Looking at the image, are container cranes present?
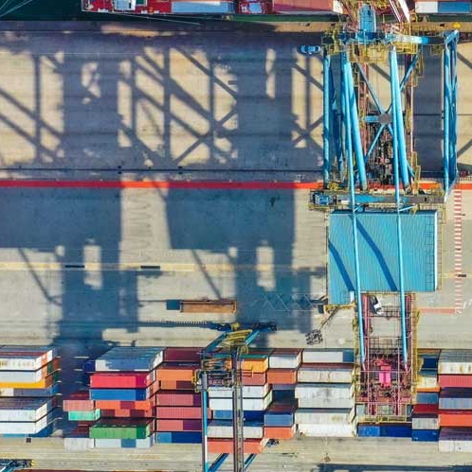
Yes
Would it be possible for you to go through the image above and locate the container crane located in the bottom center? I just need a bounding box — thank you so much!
[193,320,276,472]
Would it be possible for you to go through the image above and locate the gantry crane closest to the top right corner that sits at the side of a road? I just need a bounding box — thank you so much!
[309,0,472,423]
